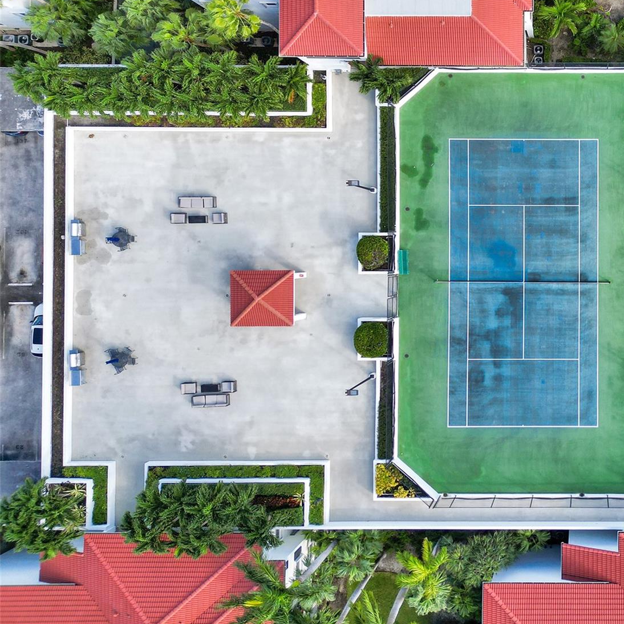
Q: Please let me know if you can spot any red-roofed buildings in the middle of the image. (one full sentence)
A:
Yes, you'll find a red-roofed building in the middle of the image.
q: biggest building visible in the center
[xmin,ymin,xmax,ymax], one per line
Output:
[228,268,310,329]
